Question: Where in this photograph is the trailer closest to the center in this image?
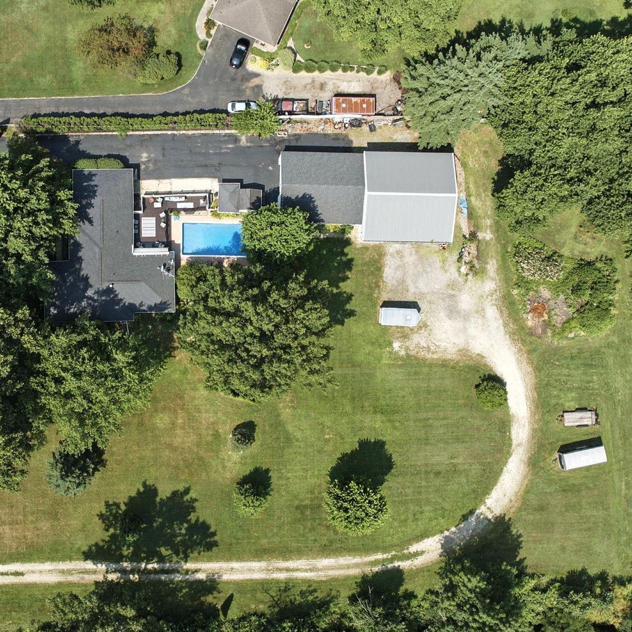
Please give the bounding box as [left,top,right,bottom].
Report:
[376,306,422,328]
